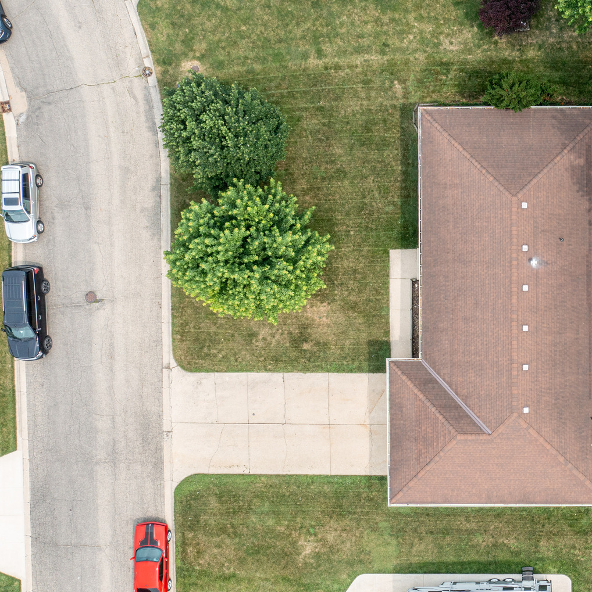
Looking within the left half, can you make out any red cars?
Yes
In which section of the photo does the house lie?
right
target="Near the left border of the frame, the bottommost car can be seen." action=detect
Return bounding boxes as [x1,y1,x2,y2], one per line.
[2,264,55,361]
